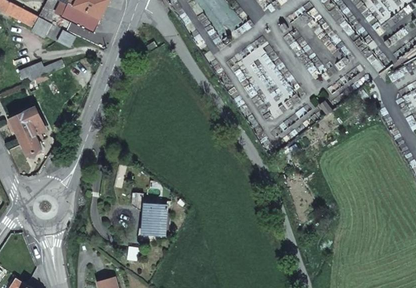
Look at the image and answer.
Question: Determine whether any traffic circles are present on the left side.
Yes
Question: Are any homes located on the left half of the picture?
Yes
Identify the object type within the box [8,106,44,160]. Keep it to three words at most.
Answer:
house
